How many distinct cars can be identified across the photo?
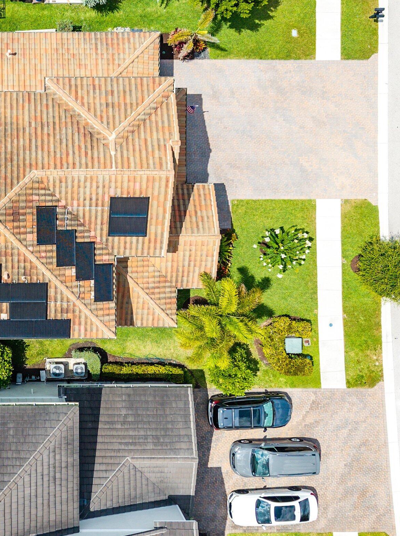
3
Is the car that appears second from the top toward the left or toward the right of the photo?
right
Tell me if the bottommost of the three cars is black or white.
white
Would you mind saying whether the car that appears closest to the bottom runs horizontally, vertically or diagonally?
horizontally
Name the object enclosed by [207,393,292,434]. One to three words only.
car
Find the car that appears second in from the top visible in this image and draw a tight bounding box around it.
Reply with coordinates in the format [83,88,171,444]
[228,437,318,482]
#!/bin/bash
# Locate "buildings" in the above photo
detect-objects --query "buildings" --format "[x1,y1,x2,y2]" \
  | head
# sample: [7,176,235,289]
[0,30,222,342]
[0,382,203,536]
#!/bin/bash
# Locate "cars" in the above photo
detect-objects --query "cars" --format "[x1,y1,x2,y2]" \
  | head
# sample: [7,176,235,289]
[228,437,318,482]
[207,393,292,434]
[226,487,315,532]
